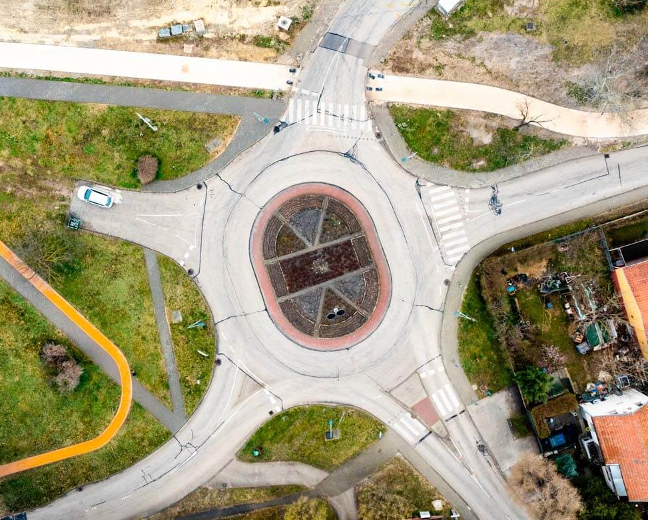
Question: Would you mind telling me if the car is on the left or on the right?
left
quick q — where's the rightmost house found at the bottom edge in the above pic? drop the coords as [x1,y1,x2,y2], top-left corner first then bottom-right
[577,389,648,502]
